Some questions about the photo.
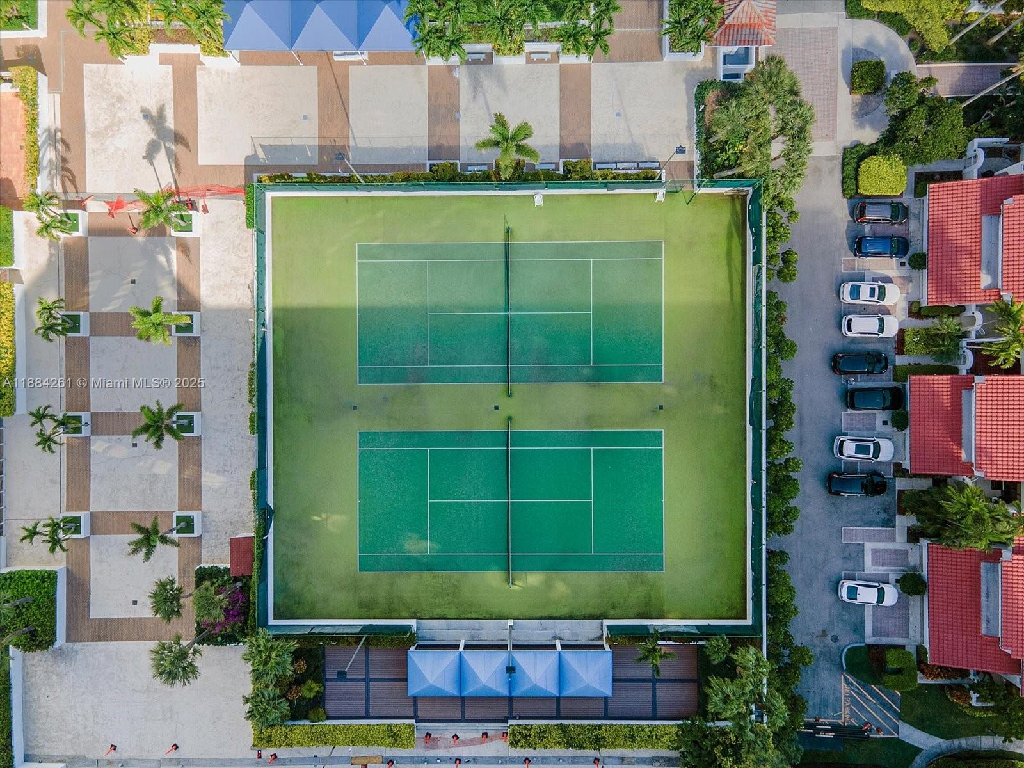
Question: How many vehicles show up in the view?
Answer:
nine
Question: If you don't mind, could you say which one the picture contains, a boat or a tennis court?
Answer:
tennis court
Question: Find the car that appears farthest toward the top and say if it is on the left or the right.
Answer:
right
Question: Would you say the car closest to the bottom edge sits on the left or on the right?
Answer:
right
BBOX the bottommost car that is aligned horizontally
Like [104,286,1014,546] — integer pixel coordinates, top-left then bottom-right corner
[836,577,897,610]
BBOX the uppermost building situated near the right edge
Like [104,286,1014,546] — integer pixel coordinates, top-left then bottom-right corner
[921,173,1024,305]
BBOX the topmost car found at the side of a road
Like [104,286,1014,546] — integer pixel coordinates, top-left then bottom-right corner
[853,197,908,228]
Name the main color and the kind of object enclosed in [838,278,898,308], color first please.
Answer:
white car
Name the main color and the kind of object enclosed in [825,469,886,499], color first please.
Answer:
black car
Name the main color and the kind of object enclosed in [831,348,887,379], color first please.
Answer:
black car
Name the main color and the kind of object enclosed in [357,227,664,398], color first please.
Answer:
green tennis court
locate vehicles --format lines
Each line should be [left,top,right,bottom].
[838,278,898,308]
[853,197,908,228]
[836,577,897,610]
[831,348,887,379]
[852,231,908,261]
[825,469,886,499]
[832,435,893,465]
[840,310,897,341]
[846,384,903,414]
